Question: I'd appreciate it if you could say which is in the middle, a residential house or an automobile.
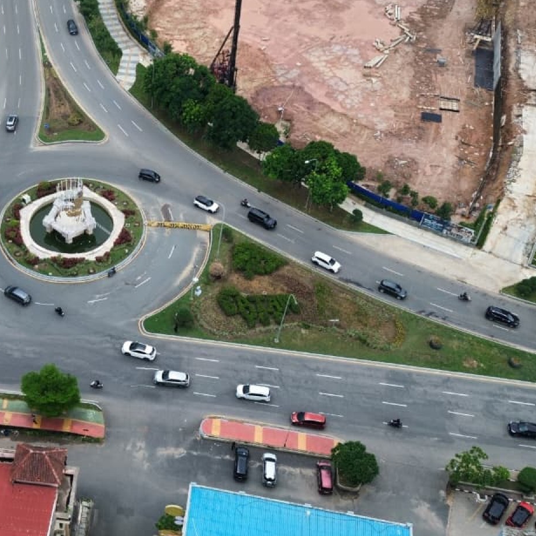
automobile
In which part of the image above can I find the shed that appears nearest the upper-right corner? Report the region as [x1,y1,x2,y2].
[473,42,497,97]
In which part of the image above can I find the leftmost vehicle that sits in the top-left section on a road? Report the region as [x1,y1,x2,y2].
[5,113,20,133]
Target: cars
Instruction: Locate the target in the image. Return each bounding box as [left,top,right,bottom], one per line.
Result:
[135,165,163,185]
[191,193,221,215]
[504,497,534,531]
[153,367,191,389]
[503,419,536,441]
[5,113,20,133]
[483,303,522,330]
[478,490,511,529]
[289,410,328,430]
[234,382,272,403]
[315,459,333,496]
[309,249,342,275]
[121,341,158,362]
[260,451,279,491]
[1,284,35,309]
[231,446,252,486]
[245,205,279,230]
[374,277,411,302]
[66,19,78,35]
